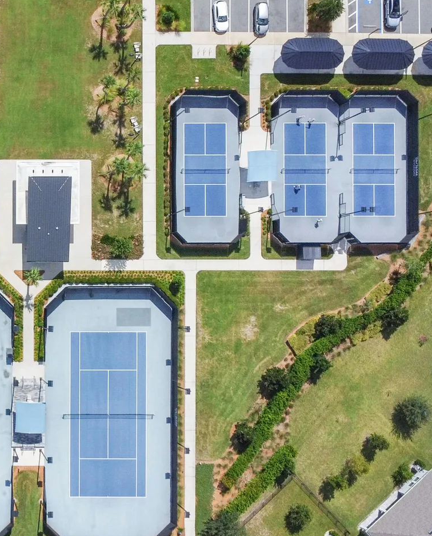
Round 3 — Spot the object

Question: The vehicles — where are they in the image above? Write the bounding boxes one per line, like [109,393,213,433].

[378,0,402,29]
[252,3,269,37]
[212,2,229,34]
